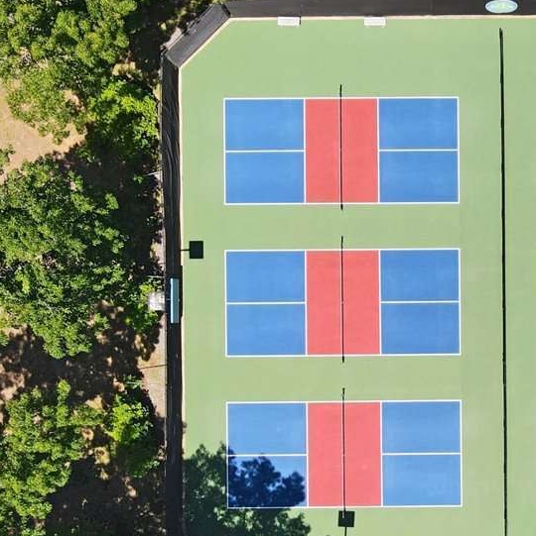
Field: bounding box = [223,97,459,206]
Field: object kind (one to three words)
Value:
sports court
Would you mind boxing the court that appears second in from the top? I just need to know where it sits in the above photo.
[224,248,460,357]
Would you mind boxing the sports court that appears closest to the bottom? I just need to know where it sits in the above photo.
[227,400,463,510]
